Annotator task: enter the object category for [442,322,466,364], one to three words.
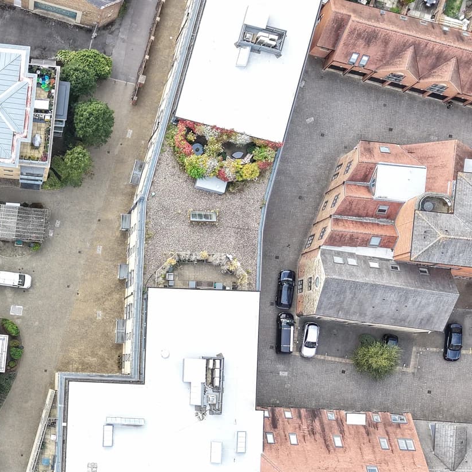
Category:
car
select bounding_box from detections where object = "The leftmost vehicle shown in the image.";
[0,270,33,289]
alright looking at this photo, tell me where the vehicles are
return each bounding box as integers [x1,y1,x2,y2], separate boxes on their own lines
[299,321,322,358]
[276,269,299,309]
[382,331,402,366]
[0,270,33,289]
[442,322,466,364]
[275,312,298,354]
